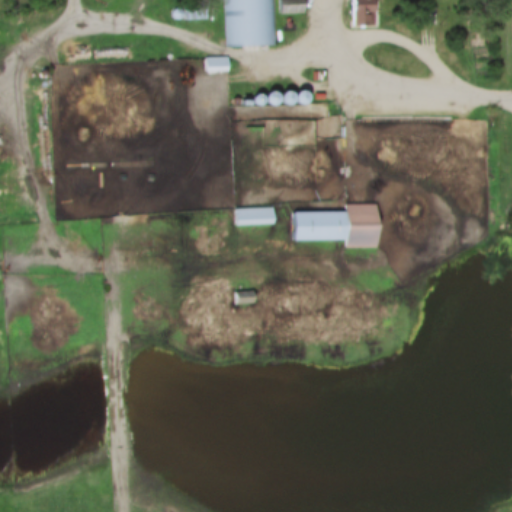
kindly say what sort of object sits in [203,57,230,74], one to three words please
shed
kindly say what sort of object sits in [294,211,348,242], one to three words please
shed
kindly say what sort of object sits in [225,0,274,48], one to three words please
barn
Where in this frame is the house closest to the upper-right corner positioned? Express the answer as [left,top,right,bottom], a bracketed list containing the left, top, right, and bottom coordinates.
[350,0,381,30]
